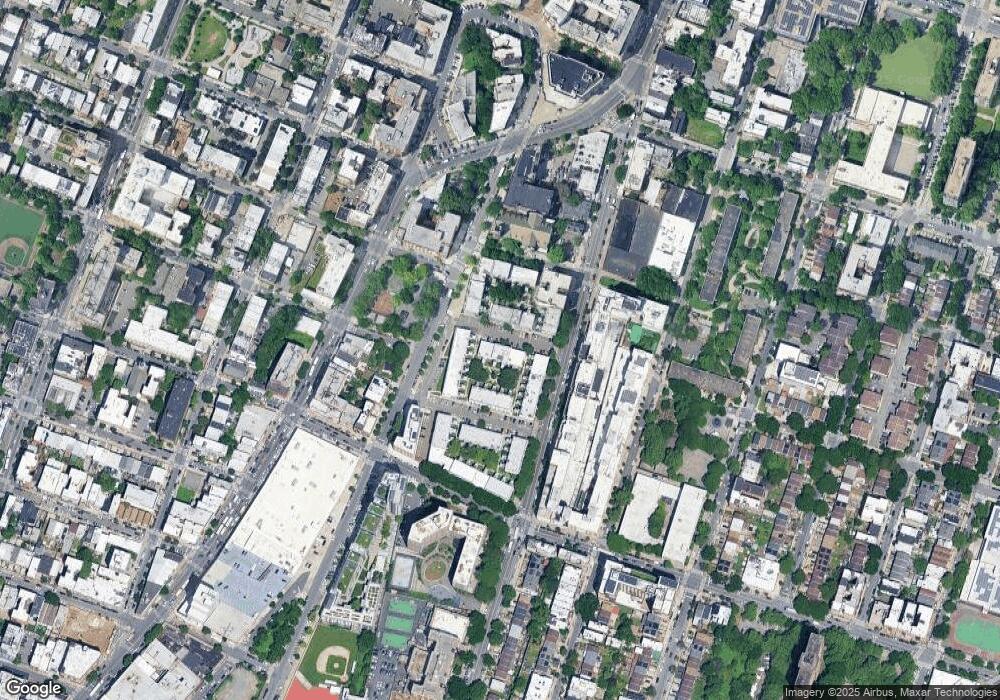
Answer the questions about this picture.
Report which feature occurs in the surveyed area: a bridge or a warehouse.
warehouse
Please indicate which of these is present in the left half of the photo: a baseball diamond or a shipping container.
baseball diamond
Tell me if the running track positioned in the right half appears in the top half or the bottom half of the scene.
bottom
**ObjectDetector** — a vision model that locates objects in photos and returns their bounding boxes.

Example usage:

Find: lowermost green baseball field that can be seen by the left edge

[0,197,45,268]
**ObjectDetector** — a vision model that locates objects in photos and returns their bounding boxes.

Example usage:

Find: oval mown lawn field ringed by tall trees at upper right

[875,32,944,101]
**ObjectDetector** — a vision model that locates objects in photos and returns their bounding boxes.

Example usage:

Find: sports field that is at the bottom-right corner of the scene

[956,612,1000,654]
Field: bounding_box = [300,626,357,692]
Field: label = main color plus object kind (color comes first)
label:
green baseball field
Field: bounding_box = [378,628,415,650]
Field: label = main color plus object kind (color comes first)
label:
green tennis court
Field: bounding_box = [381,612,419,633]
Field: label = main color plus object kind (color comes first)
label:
green tennis court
